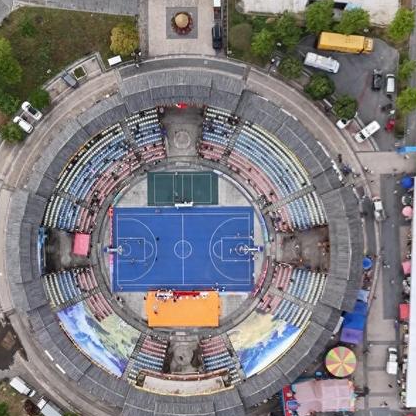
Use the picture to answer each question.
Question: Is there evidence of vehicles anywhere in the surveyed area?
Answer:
Yes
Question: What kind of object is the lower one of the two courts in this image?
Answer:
basketball court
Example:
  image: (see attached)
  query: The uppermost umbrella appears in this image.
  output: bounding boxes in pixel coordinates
[400,176,414,189]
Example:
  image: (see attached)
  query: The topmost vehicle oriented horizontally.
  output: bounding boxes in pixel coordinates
[316,31,373,56]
